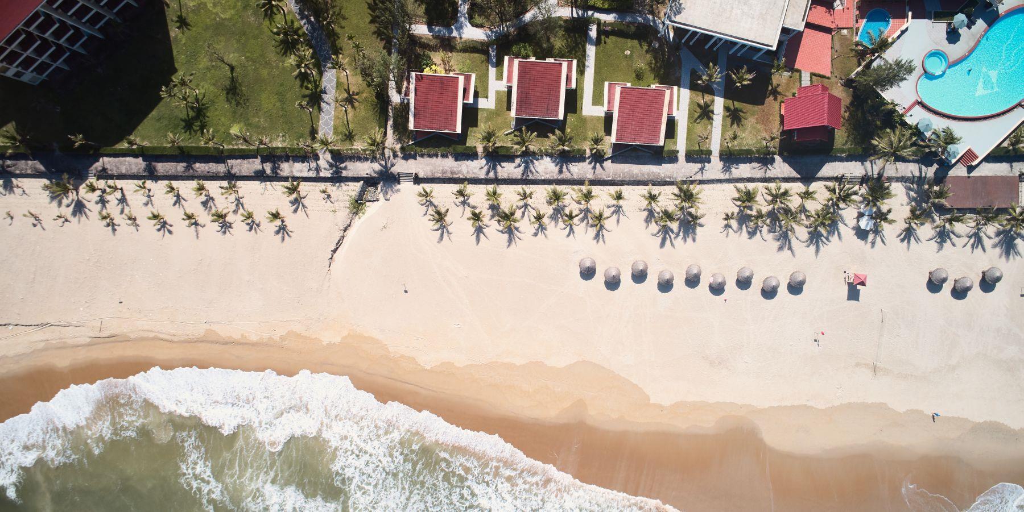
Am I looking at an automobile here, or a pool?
pool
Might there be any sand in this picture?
Yes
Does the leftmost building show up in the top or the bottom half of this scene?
top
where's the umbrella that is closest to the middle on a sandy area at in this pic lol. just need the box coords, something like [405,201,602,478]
[578,256,597,275]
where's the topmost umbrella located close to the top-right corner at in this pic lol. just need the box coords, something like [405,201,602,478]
[951,14,966,29]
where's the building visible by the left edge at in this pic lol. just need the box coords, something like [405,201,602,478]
[0,0,138,87]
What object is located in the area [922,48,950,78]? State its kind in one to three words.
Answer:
swimming pool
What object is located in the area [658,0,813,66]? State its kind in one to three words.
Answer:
building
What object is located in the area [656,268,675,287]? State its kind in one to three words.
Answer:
umbrella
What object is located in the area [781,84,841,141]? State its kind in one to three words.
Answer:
house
